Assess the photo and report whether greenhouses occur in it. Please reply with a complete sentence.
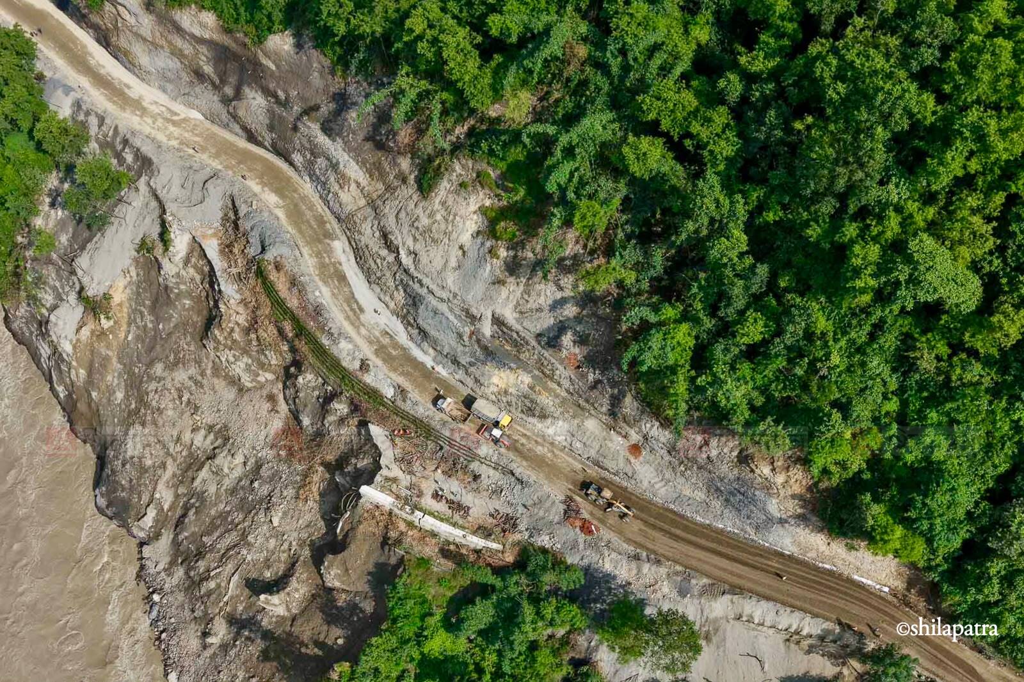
No, the picture doesn't show any greenhouse.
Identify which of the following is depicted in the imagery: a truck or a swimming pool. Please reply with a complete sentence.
Looking from above, you can make out a truck.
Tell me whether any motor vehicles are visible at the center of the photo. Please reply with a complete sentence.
Yes, I can see a motor vehicle at the center of the photo.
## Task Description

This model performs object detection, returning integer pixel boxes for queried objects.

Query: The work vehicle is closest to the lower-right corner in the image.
[586,484,640,527]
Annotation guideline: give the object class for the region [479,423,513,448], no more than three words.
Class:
work vehicle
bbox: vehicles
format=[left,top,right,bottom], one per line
[435,397,475,426]
[479,423,513,448]
[471,399,513,432]
[586,484,640,527]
